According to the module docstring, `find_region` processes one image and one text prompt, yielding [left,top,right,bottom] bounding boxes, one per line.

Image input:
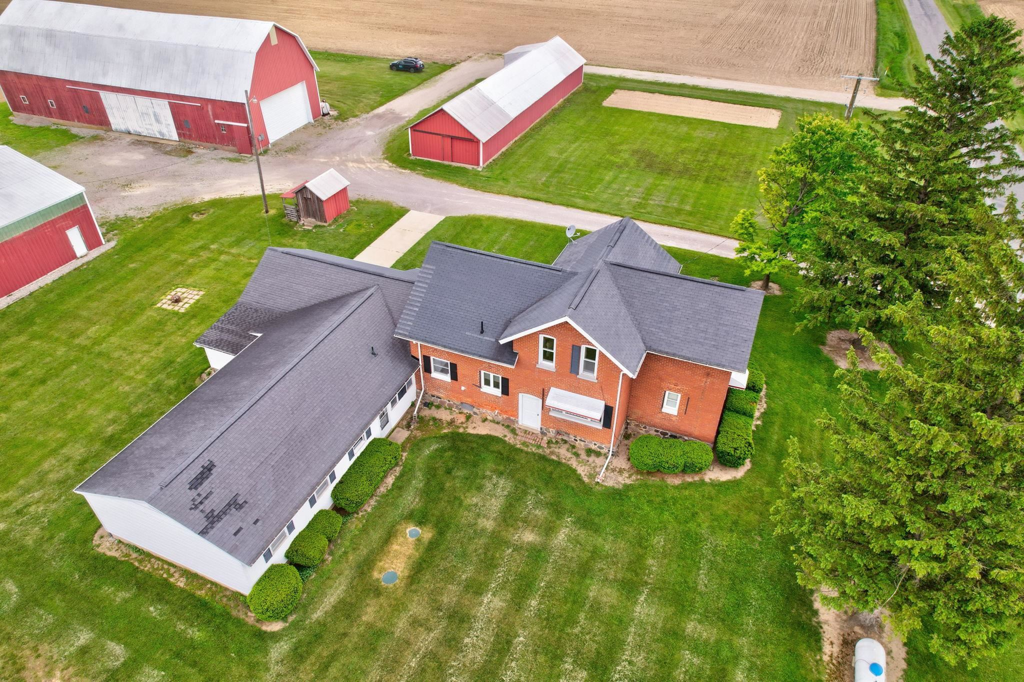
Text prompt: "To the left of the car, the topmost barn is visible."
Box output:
[0,0,323,157]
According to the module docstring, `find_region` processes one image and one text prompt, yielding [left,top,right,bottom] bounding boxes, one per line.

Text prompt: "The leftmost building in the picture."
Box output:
[0,143,105,298]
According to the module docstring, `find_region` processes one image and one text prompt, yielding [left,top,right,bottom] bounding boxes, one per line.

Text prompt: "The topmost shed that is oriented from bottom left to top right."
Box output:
[404,35,586,166]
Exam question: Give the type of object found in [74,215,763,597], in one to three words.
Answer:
house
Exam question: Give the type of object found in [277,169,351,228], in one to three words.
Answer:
shed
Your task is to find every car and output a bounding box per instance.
[387,54,426,72]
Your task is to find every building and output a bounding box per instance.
[404,35,586,166]
[0,0,323,157]
[74,215,763,597]
[0,143,105,298]
[277,169,351,228]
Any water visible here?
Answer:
No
